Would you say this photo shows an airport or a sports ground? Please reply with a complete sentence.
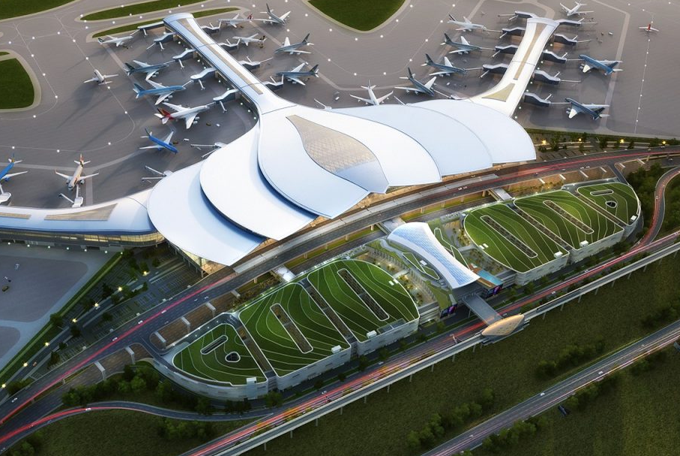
The picture captures an airport.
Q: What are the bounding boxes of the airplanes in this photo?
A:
[126,60,169,79]
[448,15,486,32]
[89,72,116,84]
[233,33,266,46]
[637,17,663,34]
[348,78,395,105]
[158,102,208,126]
[0,158,22,182]
[424,54,465,74]
[98,35,133,47]
[58,158,98,191]
[399,69,437,97]
[221,15,253,27]
[580,56,616,72]
[566,99,607,117]
[135,80,184,104]
[442,35,480,53]
[143,131,178,154]
[560,0,593,18]
[278,63,318,82]
[259,6,291,26]
[275,37,311,55]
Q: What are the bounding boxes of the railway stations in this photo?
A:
[479,312,531,343]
